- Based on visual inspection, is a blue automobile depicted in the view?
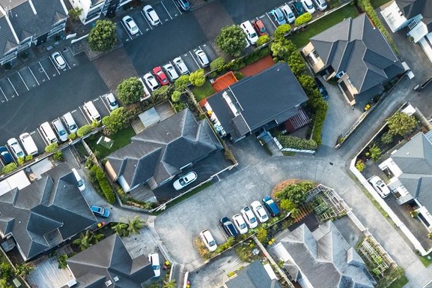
Yes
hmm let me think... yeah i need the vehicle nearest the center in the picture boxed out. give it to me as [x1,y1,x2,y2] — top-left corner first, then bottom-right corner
[172,172,198,191]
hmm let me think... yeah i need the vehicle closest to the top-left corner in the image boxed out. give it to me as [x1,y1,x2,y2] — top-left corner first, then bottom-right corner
[49,49,68,74]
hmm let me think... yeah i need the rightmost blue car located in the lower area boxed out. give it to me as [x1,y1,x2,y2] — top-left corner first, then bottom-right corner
[262,194,280,218]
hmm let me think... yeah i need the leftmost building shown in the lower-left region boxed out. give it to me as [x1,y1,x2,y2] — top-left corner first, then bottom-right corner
[0,171,97,260]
